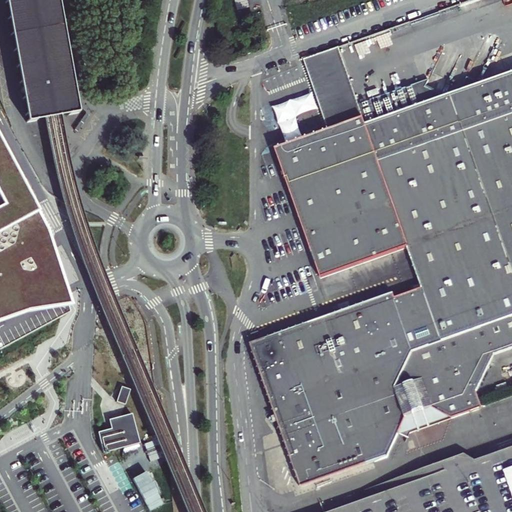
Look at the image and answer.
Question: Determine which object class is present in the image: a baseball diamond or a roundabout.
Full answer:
Looking from above, you can make out a roundabout.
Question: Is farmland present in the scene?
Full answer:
No, farmland can't be seen anywhere here.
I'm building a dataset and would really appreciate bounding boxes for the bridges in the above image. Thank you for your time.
[49,114,204,512]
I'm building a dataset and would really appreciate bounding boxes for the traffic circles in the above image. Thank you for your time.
[134,207,200,274]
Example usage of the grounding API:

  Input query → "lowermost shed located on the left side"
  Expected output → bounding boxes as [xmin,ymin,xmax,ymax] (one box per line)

[134,470,164,510]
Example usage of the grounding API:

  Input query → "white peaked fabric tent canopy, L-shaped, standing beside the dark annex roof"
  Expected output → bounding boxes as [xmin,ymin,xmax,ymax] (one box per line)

[271,92,318,140]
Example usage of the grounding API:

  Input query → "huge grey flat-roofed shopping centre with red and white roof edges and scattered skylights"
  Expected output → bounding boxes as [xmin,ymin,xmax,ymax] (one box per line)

[248,70,512,489]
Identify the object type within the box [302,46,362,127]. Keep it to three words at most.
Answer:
building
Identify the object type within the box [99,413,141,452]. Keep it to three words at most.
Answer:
house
